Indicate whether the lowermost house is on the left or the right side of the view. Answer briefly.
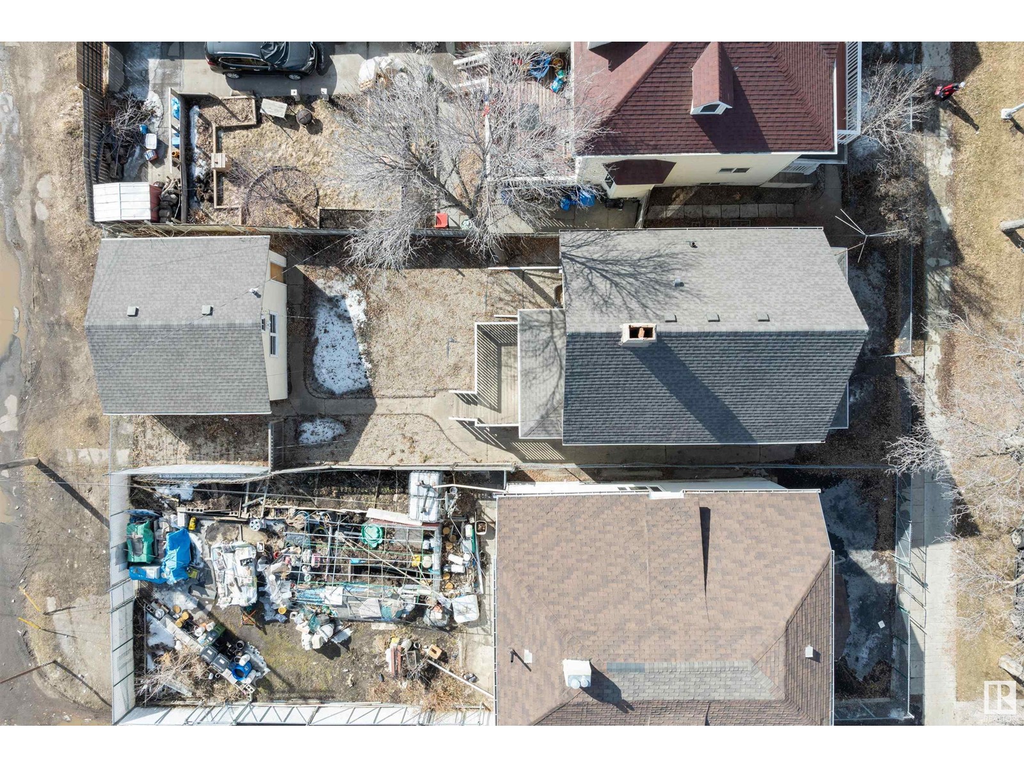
right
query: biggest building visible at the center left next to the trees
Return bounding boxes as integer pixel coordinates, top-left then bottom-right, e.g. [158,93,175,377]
[82,236,288,416]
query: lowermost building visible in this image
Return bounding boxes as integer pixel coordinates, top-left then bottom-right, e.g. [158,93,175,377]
[491,481,850,768]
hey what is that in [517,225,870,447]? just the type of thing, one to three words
house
